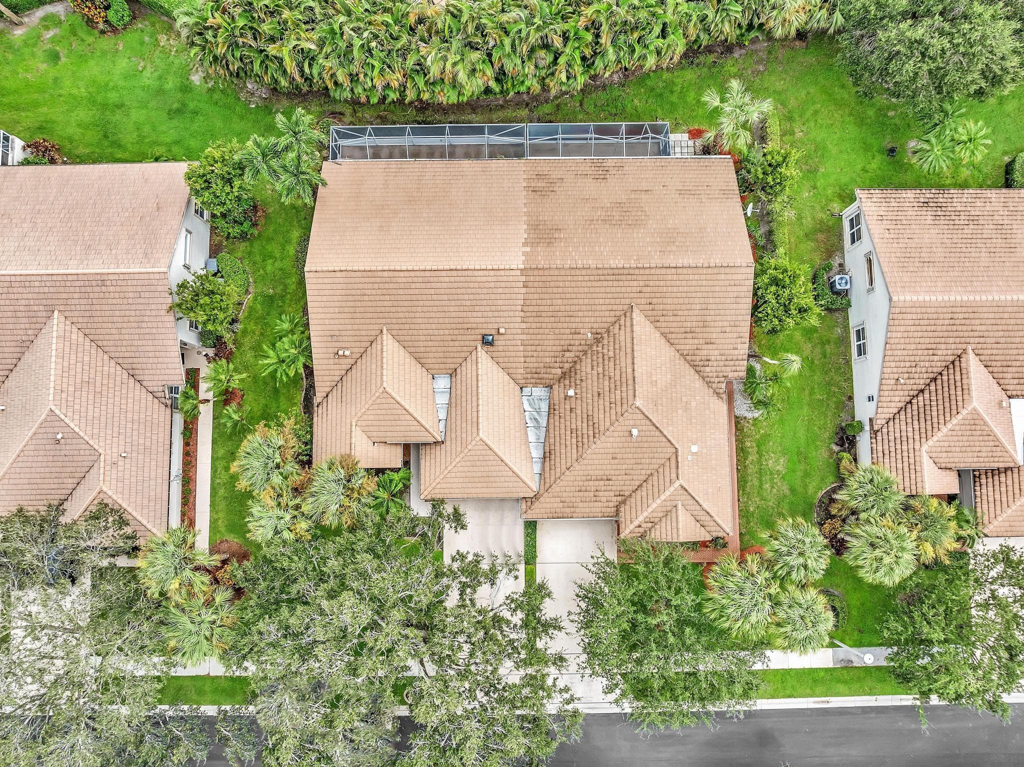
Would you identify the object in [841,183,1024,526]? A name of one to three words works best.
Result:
house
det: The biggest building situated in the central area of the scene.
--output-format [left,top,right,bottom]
[303,157,757,542]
